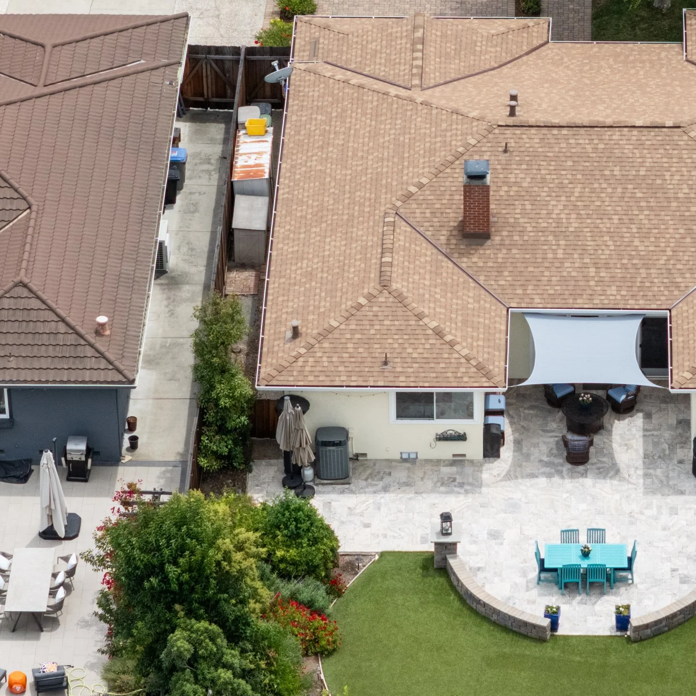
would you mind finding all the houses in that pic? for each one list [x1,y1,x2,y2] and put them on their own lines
[252,8,696,459]
[0,9,193,462]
